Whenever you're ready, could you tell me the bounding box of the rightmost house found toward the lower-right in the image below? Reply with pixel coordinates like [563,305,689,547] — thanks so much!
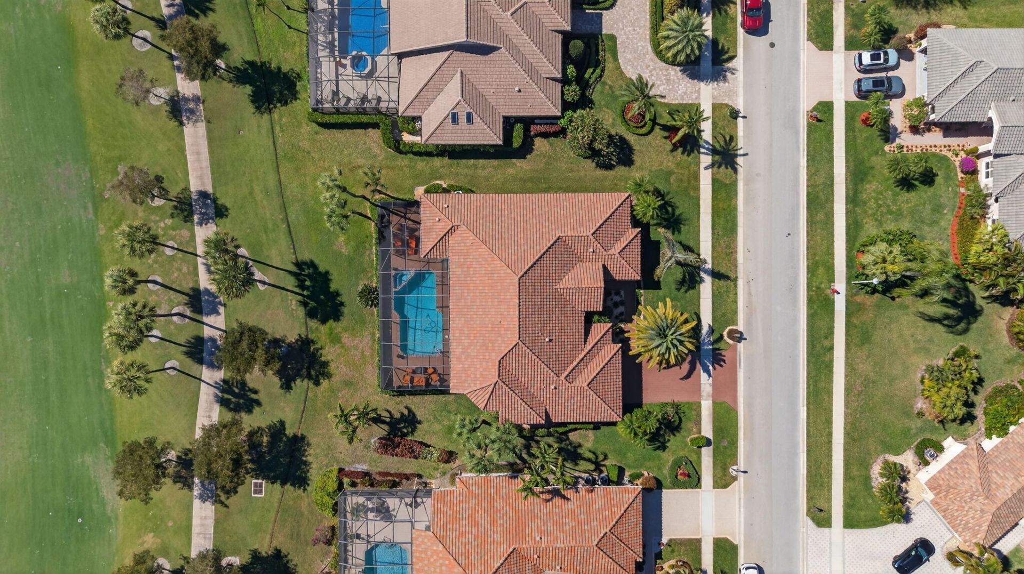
[915,408,1024,556]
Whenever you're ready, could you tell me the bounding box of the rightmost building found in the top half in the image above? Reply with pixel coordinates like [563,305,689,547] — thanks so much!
[914,27,1024,249]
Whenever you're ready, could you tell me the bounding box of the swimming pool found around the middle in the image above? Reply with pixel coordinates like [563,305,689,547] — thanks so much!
[392,269,444,357]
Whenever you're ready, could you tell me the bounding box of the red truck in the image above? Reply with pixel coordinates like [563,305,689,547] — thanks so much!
[741,0,767,32]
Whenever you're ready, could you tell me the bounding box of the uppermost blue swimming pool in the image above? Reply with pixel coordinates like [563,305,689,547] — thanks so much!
[335,0,390,56]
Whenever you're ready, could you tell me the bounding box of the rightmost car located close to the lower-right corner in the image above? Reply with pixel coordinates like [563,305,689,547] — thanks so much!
[889,536,932,574]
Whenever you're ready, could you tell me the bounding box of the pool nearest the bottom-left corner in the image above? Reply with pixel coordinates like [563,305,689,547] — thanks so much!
[363,543,409,574]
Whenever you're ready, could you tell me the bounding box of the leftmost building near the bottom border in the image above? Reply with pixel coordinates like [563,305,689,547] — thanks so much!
[413,474,642,574]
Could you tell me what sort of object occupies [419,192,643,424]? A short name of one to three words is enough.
house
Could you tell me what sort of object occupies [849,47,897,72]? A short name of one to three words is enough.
car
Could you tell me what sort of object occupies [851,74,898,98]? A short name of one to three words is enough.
car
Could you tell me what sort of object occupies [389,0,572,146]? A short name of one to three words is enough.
house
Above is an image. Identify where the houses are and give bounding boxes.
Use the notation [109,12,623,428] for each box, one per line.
[413,474,642,574]
[419,192,643,424]
[389,0,572,146]
[914,27,1024,249]
[915,408,1024,556]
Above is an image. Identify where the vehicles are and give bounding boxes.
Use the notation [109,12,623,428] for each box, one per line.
[851,74,898,98]
[889,536,932,574]
[849,47,897,72]
[737,560,758,574]
[741,0,767,32]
